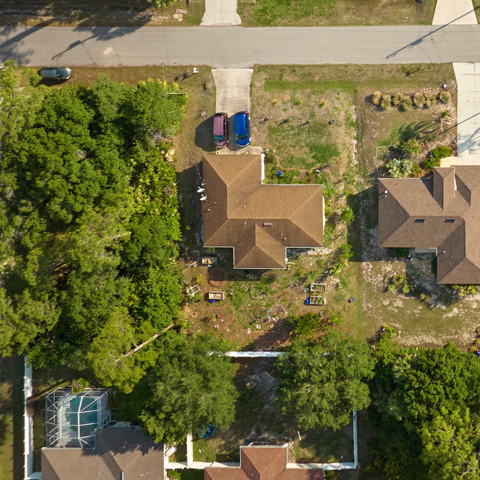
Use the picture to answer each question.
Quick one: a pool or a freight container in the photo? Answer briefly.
pool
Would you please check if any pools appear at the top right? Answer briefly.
No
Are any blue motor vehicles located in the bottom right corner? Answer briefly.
No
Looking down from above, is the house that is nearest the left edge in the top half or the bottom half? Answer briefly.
bottom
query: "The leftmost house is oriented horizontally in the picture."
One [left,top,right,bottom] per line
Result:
[41,424,169,480]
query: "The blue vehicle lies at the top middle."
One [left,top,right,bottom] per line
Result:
[234,112,251,146]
